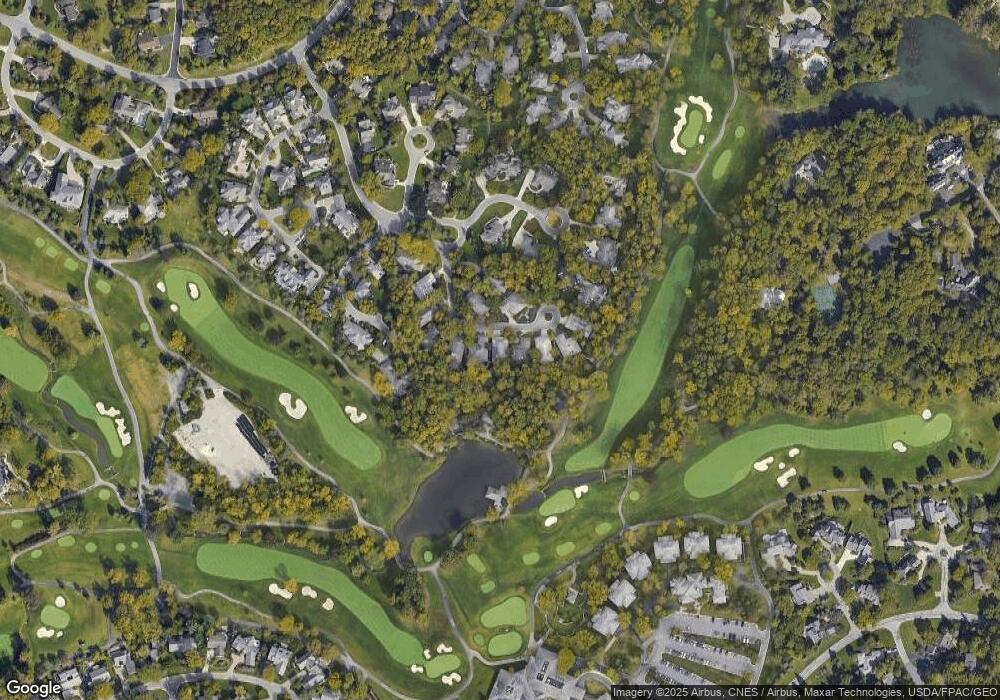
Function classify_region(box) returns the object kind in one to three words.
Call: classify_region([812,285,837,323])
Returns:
tennis court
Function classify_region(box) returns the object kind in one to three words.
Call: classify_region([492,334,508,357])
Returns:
house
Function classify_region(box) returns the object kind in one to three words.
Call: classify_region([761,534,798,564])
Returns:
house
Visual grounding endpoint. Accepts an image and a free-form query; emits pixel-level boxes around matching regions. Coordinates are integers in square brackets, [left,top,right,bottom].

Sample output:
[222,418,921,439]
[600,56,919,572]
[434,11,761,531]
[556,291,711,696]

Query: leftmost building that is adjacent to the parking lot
[486,645,594,700]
